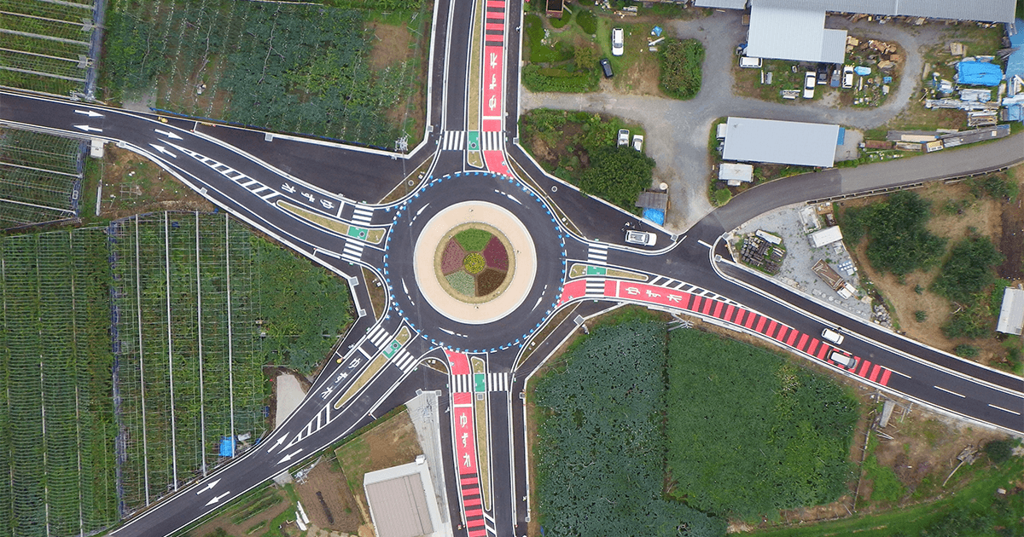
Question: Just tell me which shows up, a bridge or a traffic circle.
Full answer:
Of the two, only a traffic circle appears.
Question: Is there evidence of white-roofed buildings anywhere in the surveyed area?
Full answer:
Yes, the image includes a white-roofed building.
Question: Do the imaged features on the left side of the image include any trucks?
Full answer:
No, no truck appears on the left side of the image.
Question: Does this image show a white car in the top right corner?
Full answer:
Yes, a white car can be seen in the top right corner.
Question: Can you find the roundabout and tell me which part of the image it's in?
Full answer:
You can find the roundabout in the center area of the picture.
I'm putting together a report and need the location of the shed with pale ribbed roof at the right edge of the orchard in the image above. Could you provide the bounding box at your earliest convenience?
[995,286,1024,336]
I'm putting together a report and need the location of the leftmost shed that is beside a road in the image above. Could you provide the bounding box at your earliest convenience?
[90,138,108,158]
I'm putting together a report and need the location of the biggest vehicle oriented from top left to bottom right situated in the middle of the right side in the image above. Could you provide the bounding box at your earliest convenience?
[811,258,853,297]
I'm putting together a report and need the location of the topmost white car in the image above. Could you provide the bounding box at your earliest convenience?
[611,27,625,58]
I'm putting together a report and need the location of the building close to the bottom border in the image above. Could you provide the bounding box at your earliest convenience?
[365,454,446,537]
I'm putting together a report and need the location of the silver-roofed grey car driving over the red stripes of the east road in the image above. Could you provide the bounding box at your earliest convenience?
[822,347,856,369]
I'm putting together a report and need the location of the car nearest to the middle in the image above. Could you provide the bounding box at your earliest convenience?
[623,231,658,247]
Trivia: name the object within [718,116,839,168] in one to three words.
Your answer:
building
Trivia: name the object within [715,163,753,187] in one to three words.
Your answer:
building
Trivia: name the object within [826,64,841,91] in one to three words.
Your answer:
vehicle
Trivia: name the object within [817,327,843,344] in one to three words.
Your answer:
car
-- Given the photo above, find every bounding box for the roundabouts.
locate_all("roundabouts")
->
[385,174,564,352]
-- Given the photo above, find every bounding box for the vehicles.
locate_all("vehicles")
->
[826,64,841,91]
[811,258,853,297]
[617,127,630,151]
[817,327,843,344]
[598,57,613,82]
[800,69,815,100]
[838,65,854,91]
[611,27,625,58]
[814,62,829,87]
[623,231,658,247]
[736,58,761,71]
[822,347,856,369]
